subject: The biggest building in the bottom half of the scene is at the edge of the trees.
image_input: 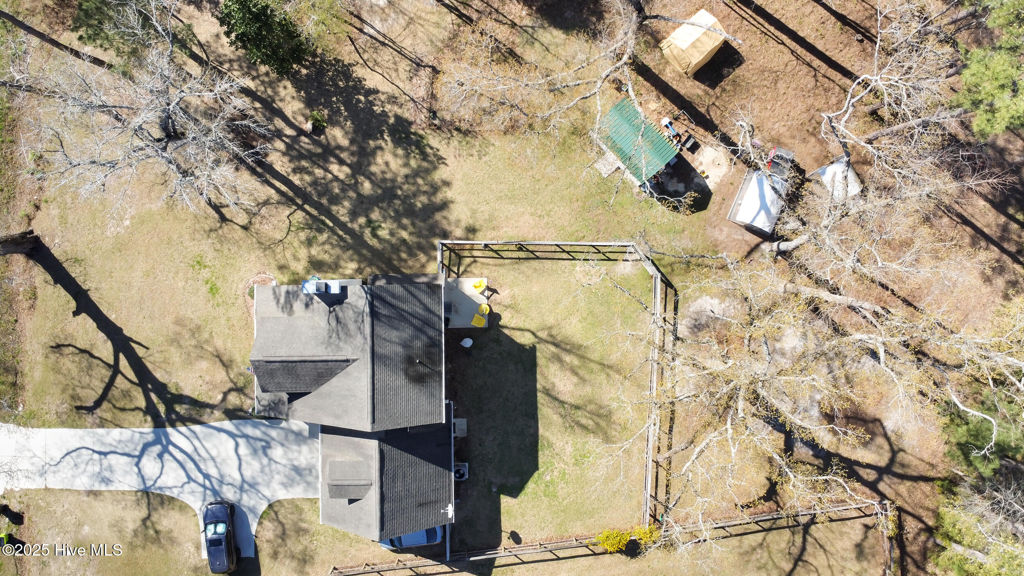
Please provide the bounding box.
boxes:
[247,273,460,542]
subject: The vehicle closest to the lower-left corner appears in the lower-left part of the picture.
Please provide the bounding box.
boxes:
[198,498,242,576]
